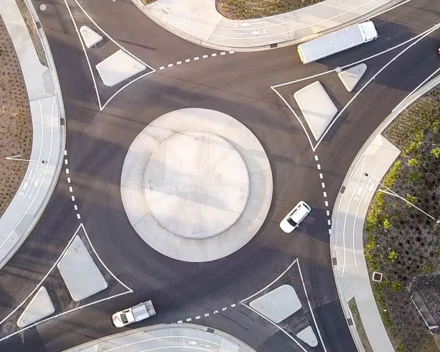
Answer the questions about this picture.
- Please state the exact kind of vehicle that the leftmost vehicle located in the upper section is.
truck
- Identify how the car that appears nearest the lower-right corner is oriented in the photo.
at an angle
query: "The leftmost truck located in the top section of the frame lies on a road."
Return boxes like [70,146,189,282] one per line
[291,19,377,67]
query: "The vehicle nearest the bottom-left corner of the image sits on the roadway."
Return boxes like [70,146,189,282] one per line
[112,299,157,327]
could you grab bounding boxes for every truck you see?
[112,299,157,327]
[291,19,377,67]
